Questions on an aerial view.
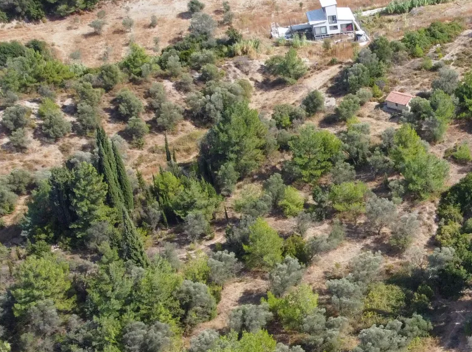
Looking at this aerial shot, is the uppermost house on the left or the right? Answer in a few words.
right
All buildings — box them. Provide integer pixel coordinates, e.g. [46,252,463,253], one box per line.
[302,0,354,37]
[382,89,418,113]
